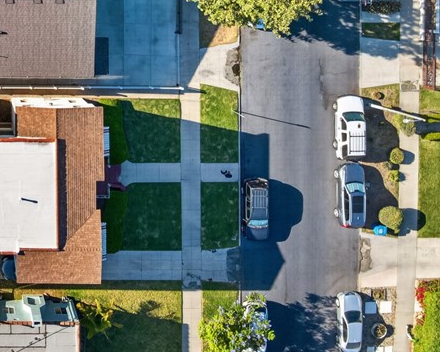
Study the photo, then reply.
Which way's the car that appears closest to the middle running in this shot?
up and down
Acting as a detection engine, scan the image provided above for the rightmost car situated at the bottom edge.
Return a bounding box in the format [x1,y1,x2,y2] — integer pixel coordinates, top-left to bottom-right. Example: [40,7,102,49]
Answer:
[332,289,365,352]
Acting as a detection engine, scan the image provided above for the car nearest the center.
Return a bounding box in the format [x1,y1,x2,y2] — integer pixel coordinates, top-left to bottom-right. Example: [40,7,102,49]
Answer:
[241,177,272,239]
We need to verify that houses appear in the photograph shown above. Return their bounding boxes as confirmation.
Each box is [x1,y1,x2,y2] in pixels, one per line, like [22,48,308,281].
[0,294,83,352]
[0,0,98,82]
[0,93,126,284]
